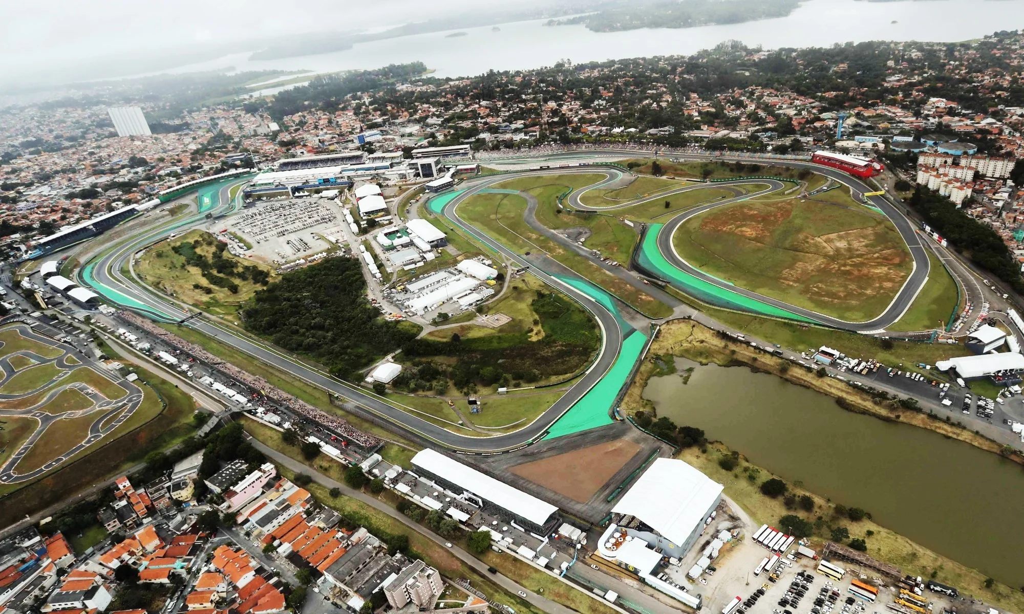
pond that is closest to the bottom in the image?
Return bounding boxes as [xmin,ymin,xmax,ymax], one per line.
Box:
[641,356,1024,595]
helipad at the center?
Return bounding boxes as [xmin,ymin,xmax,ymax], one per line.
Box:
[474,308,511,327]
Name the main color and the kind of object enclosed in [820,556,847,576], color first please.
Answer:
white bus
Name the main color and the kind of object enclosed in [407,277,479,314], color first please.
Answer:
white tent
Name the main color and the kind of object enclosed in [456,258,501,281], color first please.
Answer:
white tent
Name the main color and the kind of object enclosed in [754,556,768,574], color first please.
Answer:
white vehicle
